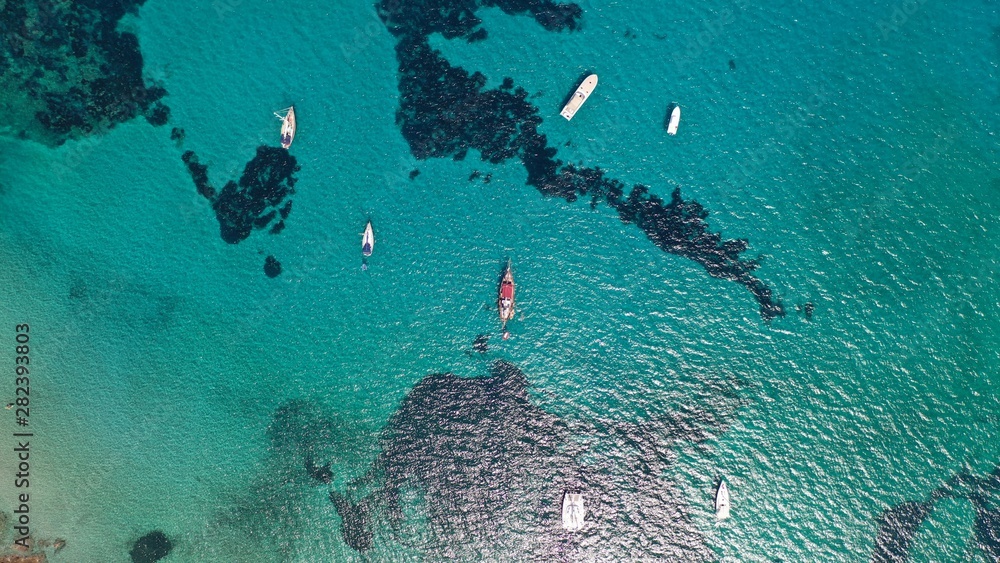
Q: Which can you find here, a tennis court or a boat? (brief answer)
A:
boat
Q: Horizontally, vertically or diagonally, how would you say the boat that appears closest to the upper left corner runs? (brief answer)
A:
vertically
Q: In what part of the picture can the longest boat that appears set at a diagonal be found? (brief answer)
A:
top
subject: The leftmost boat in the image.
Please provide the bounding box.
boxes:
[275,106,297,150]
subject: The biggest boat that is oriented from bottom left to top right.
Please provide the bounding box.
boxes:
[561,73,599,121]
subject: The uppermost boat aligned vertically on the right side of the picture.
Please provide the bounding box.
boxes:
[668,105,681,137]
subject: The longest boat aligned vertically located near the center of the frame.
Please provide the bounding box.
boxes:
[498,260,515,330]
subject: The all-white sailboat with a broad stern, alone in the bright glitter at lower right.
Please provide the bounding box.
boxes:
[716,481,734,518]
